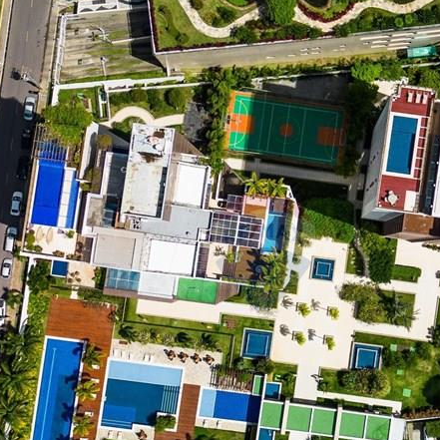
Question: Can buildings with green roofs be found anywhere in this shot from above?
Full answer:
Yes, a building with a green roof is visible in the scene.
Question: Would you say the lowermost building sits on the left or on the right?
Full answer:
You can find the lowermost building on the right side of the picture.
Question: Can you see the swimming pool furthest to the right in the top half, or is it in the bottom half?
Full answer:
It is in the top half that the swimming pool furthest to the right appears.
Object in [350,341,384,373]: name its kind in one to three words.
swimming pool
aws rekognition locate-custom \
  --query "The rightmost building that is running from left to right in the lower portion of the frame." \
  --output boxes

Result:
[258,392,406,440]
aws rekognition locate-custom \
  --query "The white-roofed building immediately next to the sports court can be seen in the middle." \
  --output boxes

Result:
[80,123,300,305]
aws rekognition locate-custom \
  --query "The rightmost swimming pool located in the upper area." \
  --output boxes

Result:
[383,111,422,179]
